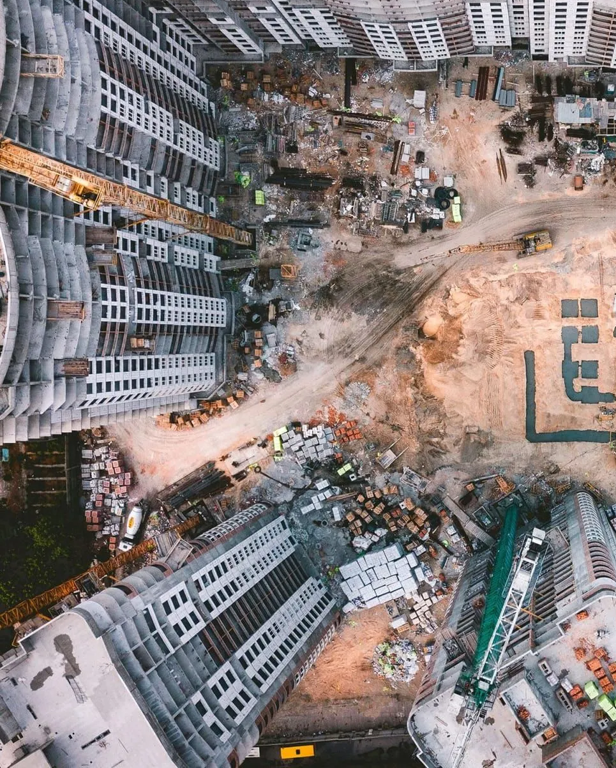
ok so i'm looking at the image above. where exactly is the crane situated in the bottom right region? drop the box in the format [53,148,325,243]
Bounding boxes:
[439,488,557,768]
